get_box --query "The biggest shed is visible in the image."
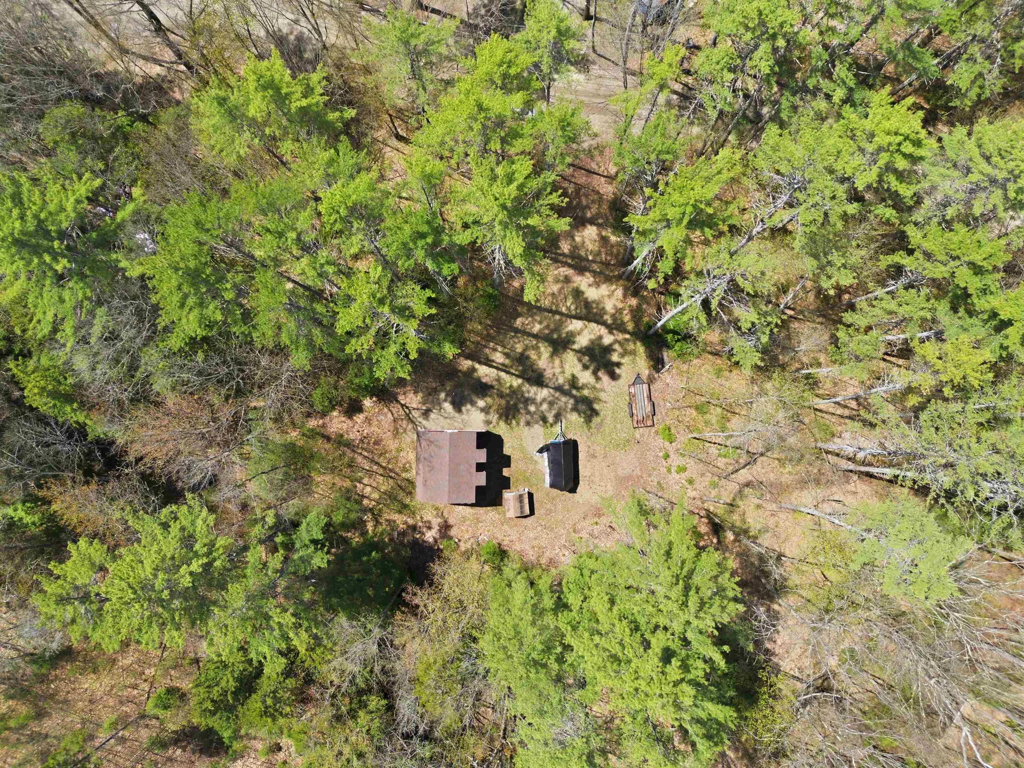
[414,427,487,505]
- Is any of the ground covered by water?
No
